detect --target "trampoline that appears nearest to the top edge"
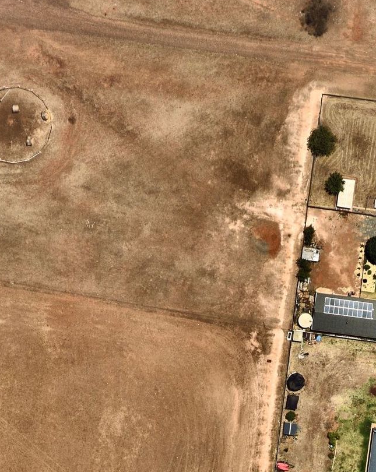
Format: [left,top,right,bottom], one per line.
[287,374,305,391]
